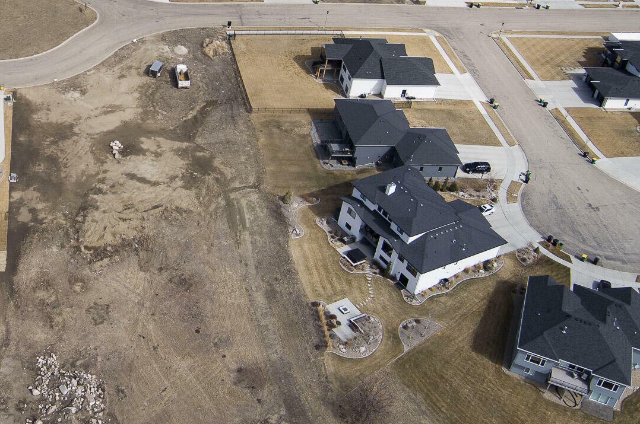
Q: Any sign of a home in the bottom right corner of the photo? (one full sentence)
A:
Yes, a home can be seen in the bottom right corner of the photo.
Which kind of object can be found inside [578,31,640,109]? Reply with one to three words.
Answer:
house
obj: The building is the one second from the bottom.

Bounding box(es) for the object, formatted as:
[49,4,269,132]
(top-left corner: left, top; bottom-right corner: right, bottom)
[336,166,508,299]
